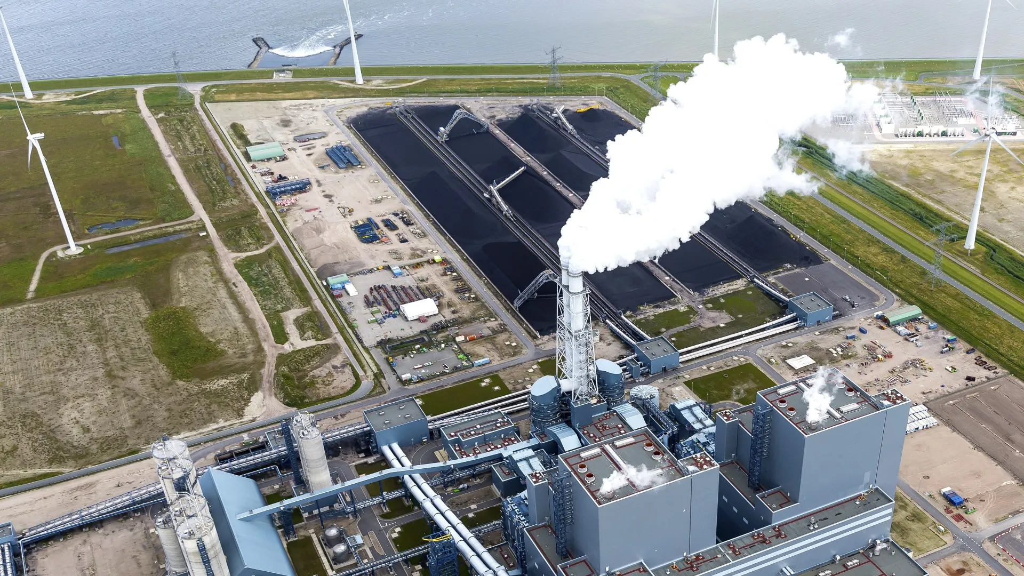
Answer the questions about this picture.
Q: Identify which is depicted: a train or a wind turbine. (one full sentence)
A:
Visible in the photo is a wind turbine.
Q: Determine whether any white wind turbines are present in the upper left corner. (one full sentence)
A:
Yes, a white wind turbine can be seen in the upper left corner.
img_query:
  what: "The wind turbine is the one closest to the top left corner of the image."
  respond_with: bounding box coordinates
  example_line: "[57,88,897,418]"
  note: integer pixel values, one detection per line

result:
[0,4,36,100]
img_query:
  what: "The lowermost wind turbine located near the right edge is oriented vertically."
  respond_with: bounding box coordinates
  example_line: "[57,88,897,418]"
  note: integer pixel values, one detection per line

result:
[947,79,1024,252]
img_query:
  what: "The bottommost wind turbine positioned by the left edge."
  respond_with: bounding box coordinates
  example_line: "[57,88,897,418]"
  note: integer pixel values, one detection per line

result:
[15,81,82,253]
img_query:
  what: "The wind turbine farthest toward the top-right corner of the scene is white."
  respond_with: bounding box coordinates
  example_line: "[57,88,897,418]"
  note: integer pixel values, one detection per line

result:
[967,0,991,82]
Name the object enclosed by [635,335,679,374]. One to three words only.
house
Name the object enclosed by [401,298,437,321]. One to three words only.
tent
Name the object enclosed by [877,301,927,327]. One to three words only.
shed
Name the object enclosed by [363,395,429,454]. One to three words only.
house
